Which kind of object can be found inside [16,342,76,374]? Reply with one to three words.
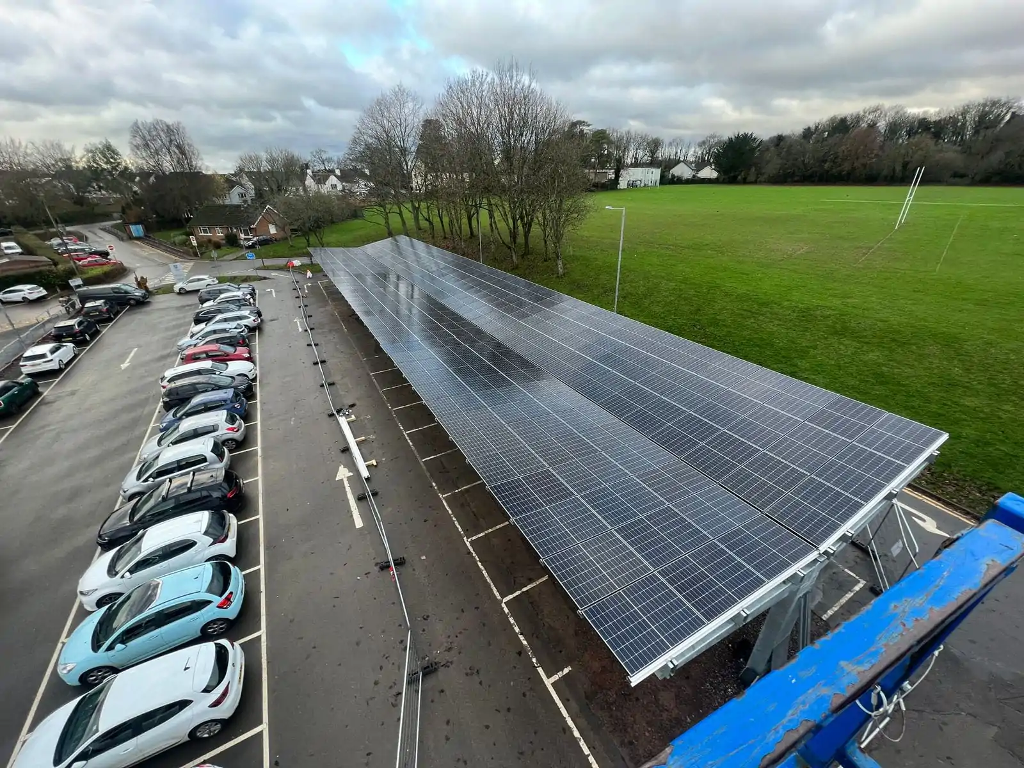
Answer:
car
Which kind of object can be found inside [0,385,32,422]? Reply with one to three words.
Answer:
car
